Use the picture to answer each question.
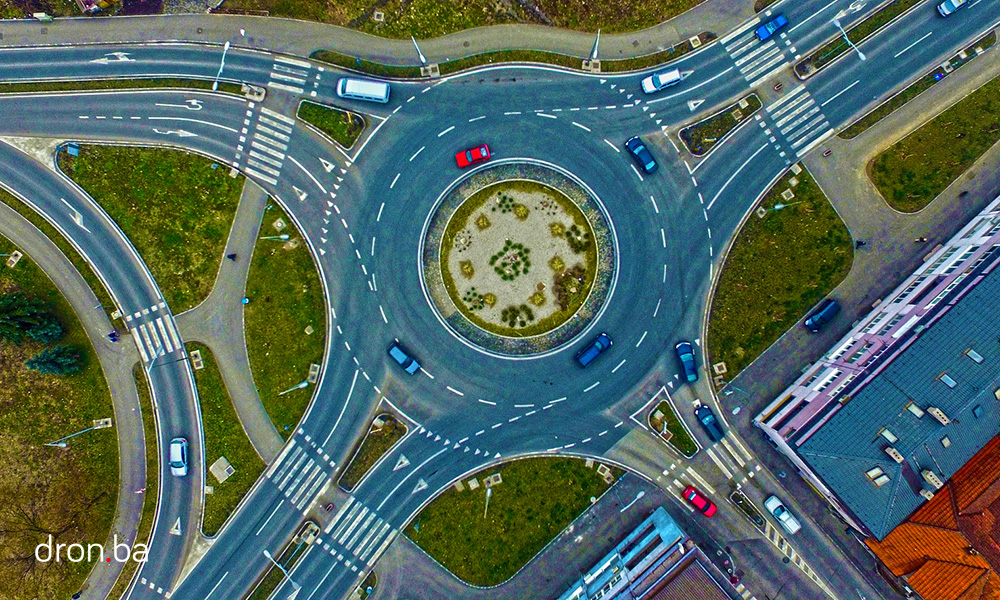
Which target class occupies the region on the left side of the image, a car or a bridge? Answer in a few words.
car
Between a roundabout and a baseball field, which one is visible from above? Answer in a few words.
roundabout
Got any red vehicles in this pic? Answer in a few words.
Yes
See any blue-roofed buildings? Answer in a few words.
Yes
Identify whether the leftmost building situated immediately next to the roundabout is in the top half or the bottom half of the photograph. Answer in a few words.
bottom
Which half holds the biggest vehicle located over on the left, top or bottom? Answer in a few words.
top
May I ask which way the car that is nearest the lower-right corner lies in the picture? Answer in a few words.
on a diagonal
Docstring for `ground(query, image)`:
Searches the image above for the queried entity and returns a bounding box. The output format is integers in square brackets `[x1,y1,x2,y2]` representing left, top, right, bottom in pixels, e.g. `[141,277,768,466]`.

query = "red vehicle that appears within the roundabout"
[456,145,490,168]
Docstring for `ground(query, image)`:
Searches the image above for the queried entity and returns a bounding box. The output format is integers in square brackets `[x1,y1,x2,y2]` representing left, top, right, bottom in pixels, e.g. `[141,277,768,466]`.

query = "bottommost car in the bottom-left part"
[168,436,190,476]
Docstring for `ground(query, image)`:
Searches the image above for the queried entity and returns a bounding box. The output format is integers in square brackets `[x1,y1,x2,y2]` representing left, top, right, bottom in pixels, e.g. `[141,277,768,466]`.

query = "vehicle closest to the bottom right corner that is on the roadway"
[763,493,803,537]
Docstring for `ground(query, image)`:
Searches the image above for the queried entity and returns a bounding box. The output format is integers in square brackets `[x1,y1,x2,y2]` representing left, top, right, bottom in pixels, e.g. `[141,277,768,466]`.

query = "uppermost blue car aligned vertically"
[675,341,699,383]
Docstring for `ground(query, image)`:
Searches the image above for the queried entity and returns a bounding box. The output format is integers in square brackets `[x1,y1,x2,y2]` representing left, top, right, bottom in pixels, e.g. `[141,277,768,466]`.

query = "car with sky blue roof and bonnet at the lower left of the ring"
[387,342,421,374]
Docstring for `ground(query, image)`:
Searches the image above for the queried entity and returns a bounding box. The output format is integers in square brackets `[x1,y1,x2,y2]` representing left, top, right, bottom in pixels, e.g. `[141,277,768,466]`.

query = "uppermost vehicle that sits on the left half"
[336,76,393,104]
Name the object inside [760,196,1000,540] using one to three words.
building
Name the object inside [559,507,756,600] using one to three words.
building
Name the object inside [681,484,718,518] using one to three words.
car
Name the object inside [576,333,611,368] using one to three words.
car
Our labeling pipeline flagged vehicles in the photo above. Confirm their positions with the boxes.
[754,11,790,41]
[387,342,421,374]
[576,333,611,368]
[456,145,490,168]
[694,404,726,443]
[625,136,659,175]
[336,76,393,104]
[168,436,190,476]
[935,0,974,19]
[681,484,718,518]
[763,493,803,537]
[675,341,699,383]
[641,67,683,96]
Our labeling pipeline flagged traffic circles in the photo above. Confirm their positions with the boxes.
[306,64,756,483]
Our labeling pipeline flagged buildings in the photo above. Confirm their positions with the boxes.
[760,196,1000,540]
[559,507,756,600]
